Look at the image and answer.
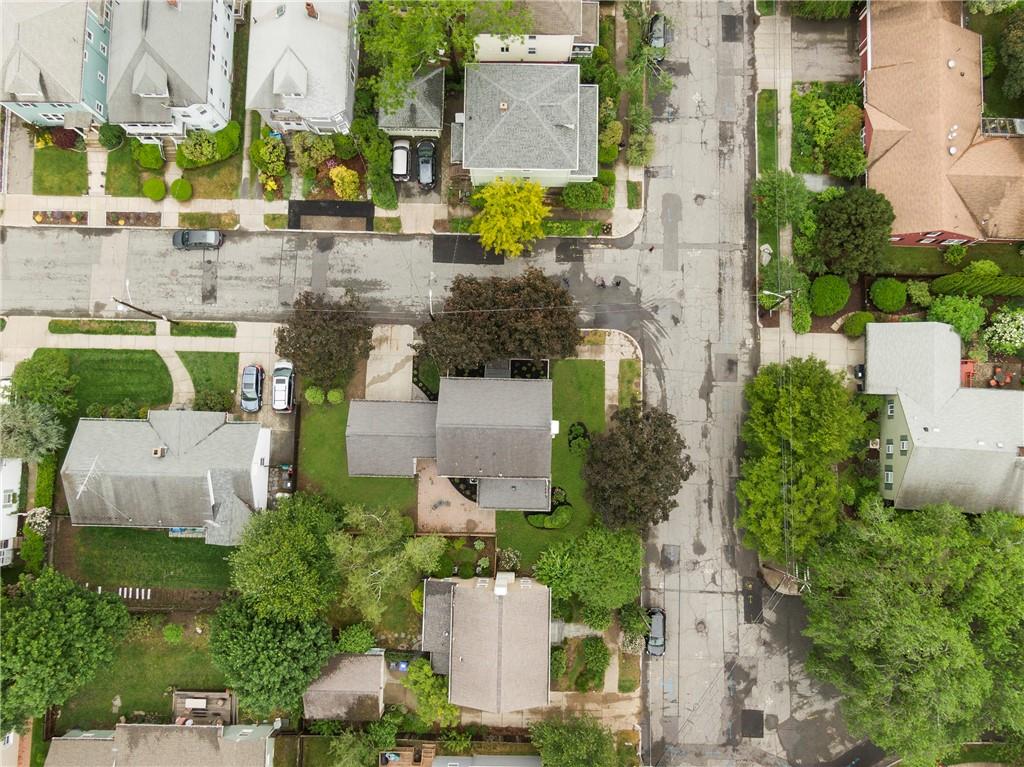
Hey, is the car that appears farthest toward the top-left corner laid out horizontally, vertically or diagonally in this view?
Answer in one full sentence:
From this overhead view, the car that appears farthest toward the top-left corner appears to run horizontally.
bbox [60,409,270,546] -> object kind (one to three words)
house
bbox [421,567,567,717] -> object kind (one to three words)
house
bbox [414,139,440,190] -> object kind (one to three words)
car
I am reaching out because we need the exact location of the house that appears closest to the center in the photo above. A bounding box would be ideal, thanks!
[345,354,560,512]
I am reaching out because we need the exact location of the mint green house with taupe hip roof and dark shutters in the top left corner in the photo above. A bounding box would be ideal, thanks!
[0,0,112,150]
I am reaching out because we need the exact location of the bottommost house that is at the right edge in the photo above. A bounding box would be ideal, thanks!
[862,322,1024,510]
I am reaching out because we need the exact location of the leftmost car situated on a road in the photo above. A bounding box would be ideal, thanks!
[174,226,225,251]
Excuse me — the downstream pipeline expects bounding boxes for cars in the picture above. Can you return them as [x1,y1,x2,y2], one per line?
[645,606,669,658]
[414,139,440,190]
[646,12,670,62]
[392,140,412,183]
[270,360,296,413]
[238,363,266,413]
[174,226,225,251]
